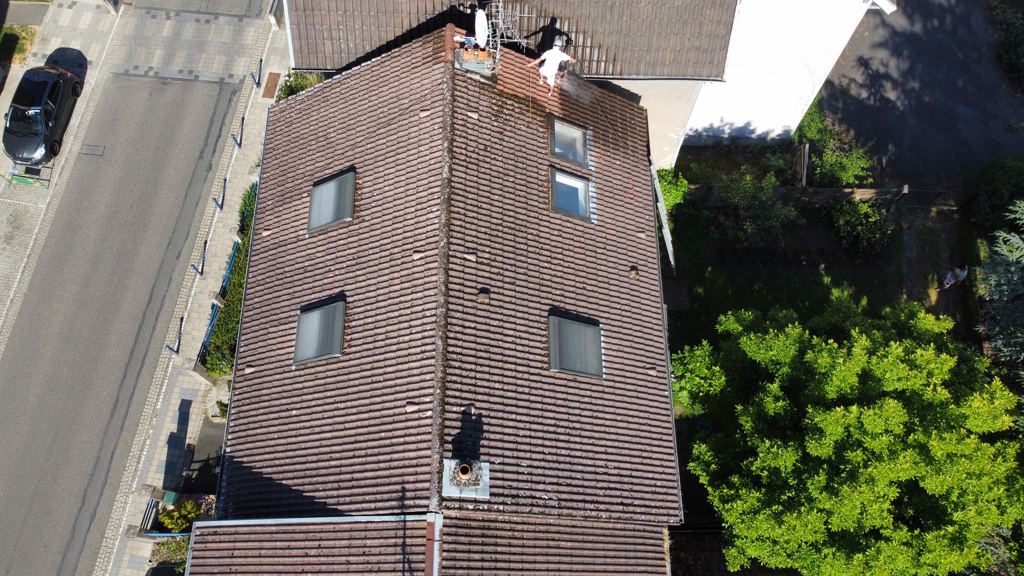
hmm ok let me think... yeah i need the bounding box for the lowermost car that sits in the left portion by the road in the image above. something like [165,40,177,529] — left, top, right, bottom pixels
[0,63,84,164]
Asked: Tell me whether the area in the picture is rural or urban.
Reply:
urban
